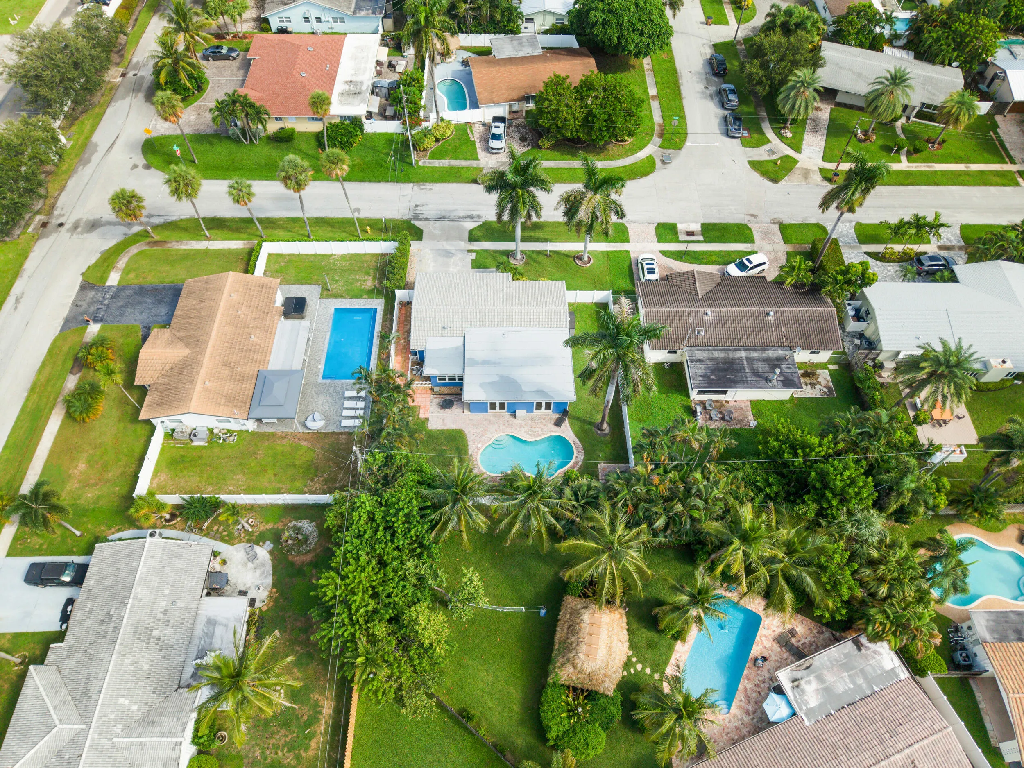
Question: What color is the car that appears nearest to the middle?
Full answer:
In this view, the car that appears nearest to the middle is white.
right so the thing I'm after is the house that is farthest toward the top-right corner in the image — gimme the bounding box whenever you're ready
[990,44,1024,106]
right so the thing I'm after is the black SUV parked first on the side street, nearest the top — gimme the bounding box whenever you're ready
[709,50,731,73]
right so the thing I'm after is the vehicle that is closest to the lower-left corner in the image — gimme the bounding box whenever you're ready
[6,559,88,595]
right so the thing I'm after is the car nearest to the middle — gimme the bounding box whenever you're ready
[638,250,664,281]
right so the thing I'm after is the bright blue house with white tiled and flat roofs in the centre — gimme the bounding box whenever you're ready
[411,272,576,413]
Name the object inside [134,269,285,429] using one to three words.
house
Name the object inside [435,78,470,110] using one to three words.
swimming pool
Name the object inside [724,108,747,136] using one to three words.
car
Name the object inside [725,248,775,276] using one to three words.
car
